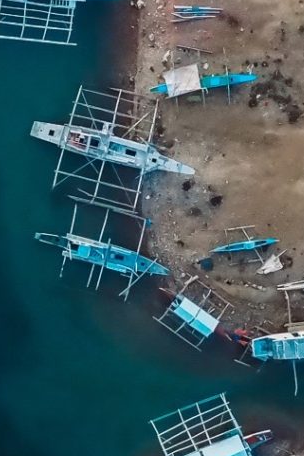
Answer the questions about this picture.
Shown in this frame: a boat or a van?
boat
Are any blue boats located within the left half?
Yes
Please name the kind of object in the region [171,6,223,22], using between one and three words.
boat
